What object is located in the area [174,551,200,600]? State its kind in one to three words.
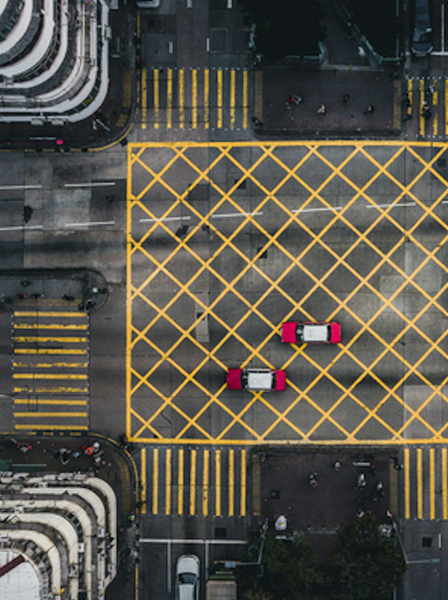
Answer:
car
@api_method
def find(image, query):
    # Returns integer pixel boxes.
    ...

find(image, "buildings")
[0,468,124,600]
[0,0,118,130]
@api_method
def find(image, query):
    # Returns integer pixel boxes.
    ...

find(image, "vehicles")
[280,319,343,347]
[137,0,161,10]
[174,551,200,600]
[225,365,288,393]
[208,551,240,600]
